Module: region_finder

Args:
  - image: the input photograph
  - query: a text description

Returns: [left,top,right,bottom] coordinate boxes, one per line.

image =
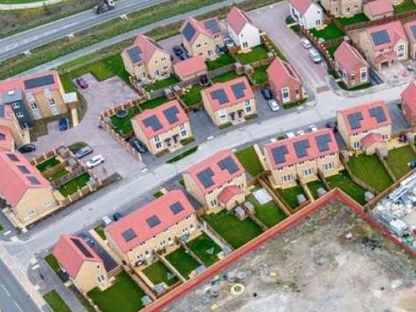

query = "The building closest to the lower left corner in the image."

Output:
[47,234,113,296]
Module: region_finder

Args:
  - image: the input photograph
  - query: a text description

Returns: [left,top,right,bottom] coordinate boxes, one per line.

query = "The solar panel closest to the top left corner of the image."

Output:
[26,74,58,91]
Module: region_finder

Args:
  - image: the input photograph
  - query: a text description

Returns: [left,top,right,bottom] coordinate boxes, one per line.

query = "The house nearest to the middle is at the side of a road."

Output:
[175,148,244,206]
